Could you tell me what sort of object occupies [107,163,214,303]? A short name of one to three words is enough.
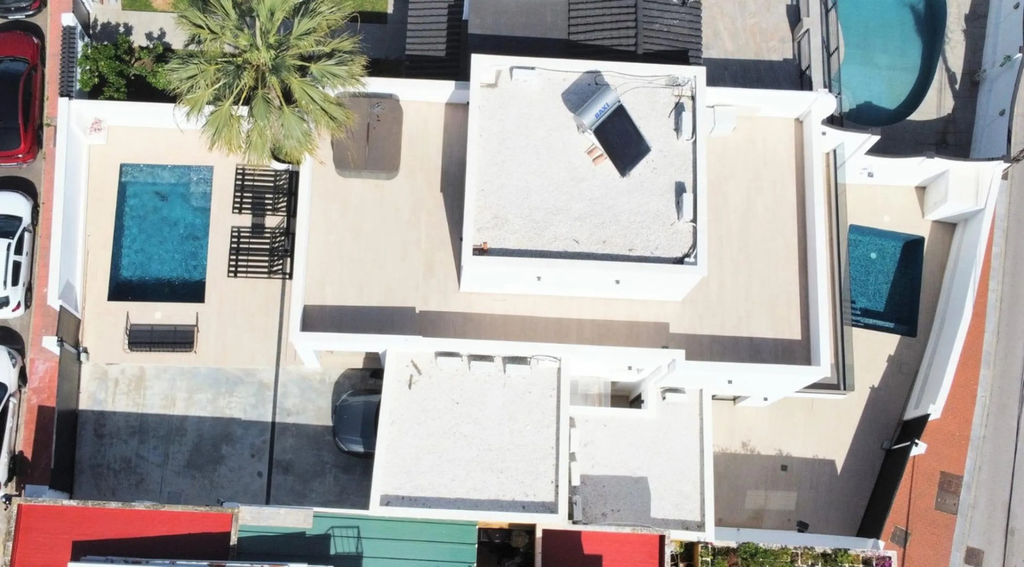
swimming pool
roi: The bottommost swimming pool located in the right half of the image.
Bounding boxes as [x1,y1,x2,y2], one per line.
[841,223,925,338]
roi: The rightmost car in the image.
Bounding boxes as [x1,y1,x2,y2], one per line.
[332,389,381,458]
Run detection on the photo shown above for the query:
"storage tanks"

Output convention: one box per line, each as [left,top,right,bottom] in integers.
[577,86,621,130]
